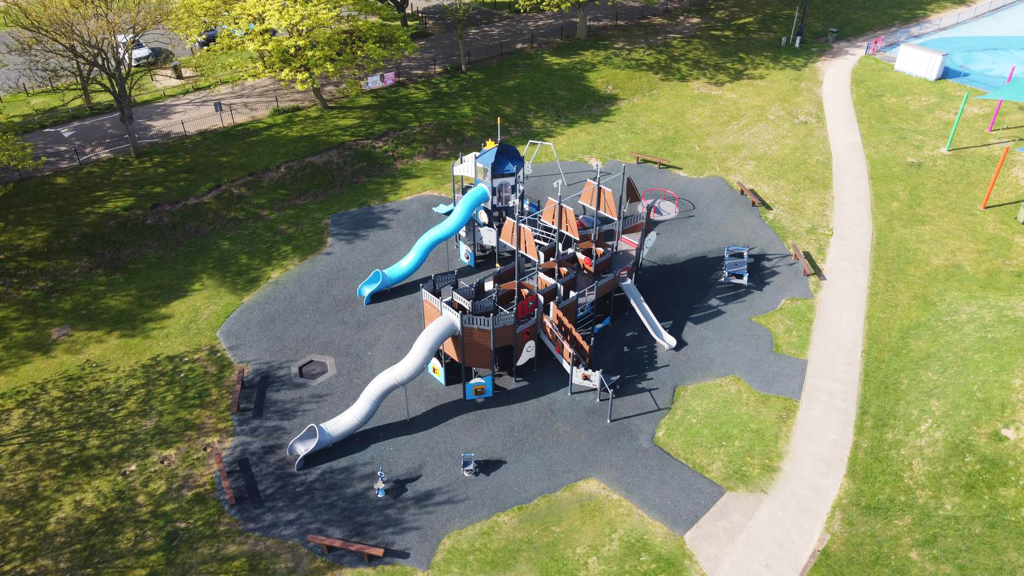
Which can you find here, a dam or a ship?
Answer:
ship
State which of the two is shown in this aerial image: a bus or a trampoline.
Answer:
trampoline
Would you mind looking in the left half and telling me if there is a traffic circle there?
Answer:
No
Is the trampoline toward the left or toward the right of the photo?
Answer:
left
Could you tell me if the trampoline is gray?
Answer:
Yes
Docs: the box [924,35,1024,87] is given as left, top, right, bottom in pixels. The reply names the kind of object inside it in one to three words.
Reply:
swimming pool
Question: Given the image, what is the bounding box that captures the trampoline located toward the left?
[292,354,335,386]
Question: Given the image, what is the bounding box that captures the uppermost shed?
[894,39,954,80]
